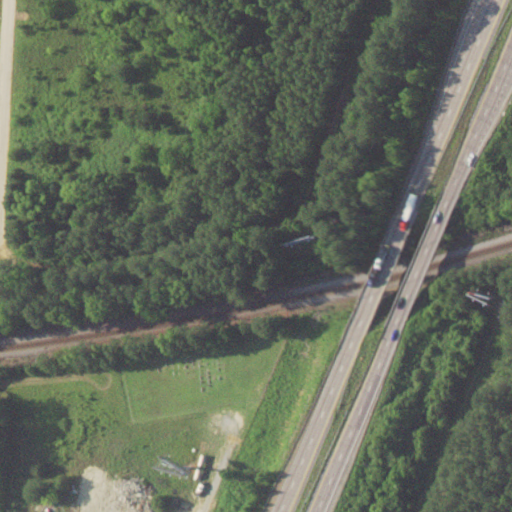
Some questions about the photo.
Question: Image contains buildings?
No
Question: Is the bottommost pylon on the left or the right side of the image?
left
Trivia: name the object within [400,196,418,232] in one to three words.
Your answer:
vehicle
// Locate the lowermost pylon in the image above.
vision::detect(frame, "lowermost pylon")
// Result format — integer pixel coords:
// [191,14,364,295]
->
[152,456,189,480]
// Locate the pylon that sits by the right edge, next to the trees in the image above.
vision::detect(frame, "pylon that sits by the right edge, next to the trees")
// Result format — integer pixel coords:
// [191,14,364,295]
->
[466,291,496,306]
